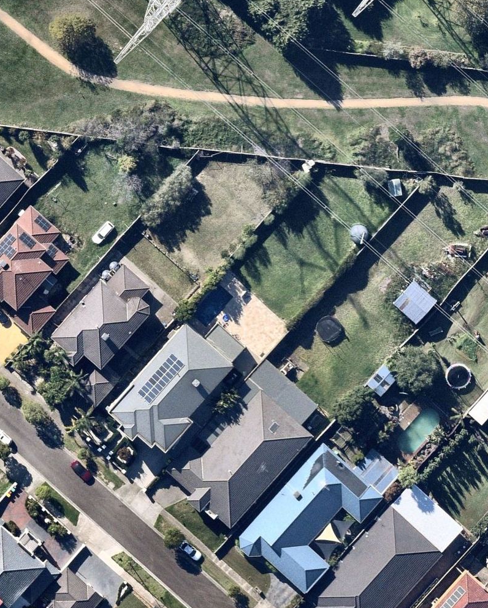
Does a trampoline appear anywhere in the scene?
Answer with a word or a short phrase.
Yes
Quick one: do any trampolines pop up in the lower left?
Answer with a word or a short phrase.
No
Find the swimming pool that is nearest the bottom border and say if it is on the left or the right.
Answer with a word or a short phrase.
right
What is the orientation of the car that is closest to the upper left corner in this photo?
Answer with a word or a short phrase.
at an angle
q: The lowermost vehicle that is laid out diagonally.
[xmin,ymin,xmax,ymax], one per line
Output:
[180,543,201,560]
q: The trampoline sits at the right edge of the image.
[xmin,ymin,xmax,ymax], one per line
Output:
[446,364,471,389]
